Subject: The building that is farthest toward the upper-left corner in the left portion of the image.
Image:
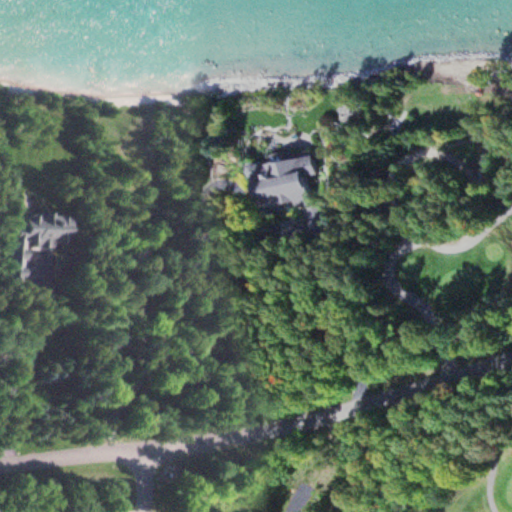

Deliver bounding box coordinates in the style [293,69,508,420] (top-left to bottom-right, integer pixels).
[18,213,79,280]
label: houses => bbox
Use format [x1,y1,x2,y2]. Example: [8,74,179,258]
[254,152,319,208]
[18,213,79,280]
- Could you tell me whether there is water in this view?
Yes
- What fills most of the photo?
trees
